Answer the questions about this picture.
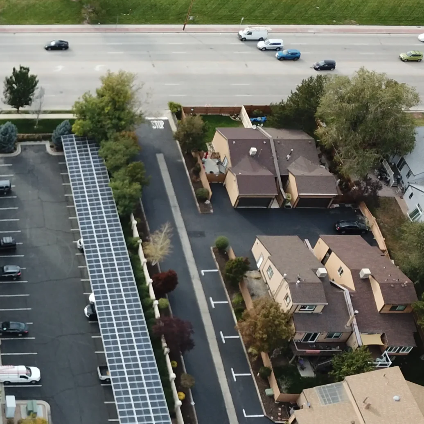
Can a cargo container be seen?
No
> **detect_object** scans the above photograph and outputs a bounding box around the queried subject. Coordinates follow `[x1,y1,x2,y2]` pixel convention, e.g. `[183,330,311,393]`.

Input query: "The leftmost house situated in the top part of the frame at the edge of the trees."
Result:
[212,125,338,210]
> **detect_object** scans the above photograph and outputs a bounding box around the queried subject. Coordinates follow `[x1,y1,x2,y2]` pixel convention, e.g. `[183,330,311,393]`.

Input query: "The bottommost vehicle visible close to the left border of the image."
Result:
[0,366,40,385]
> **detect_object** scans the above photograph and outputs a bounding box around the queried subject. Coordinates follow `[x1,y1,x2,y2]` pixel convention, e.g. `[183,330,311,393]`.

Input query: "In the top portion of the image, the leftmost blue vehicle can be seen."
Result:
[274,49,302,61]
